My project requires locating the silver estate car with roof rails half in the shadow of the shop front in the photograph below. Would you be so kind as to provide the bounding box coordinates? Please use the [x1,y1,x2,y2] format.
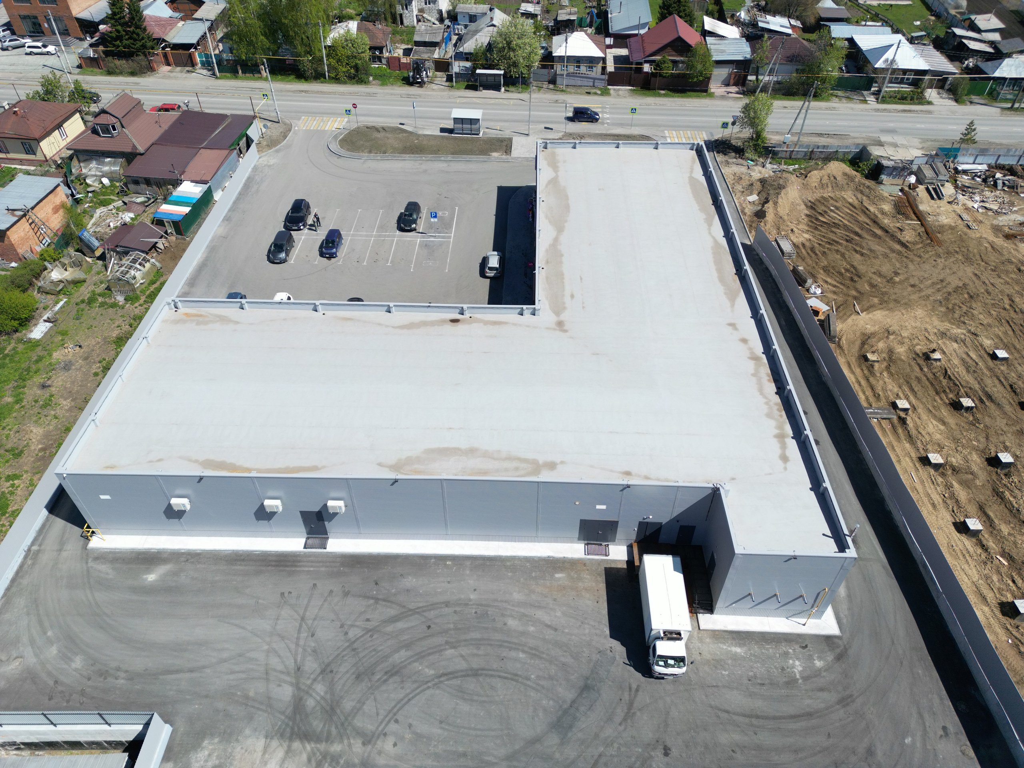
[484,247,505,274]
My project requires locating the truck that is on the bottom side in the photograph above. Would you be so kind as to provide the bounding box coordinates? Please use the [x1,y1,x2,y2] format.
[639,556,696,681]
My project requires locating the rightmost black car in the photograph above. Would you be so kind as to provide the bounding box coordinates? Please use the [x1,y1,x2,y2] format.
[571,104,601,121]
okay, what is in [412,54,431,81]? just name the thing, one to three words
work vehicle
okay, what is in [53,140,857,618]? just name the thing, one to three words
building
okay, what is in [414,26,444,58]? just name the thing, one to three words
shed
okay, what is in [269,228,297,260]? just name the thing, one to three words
car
